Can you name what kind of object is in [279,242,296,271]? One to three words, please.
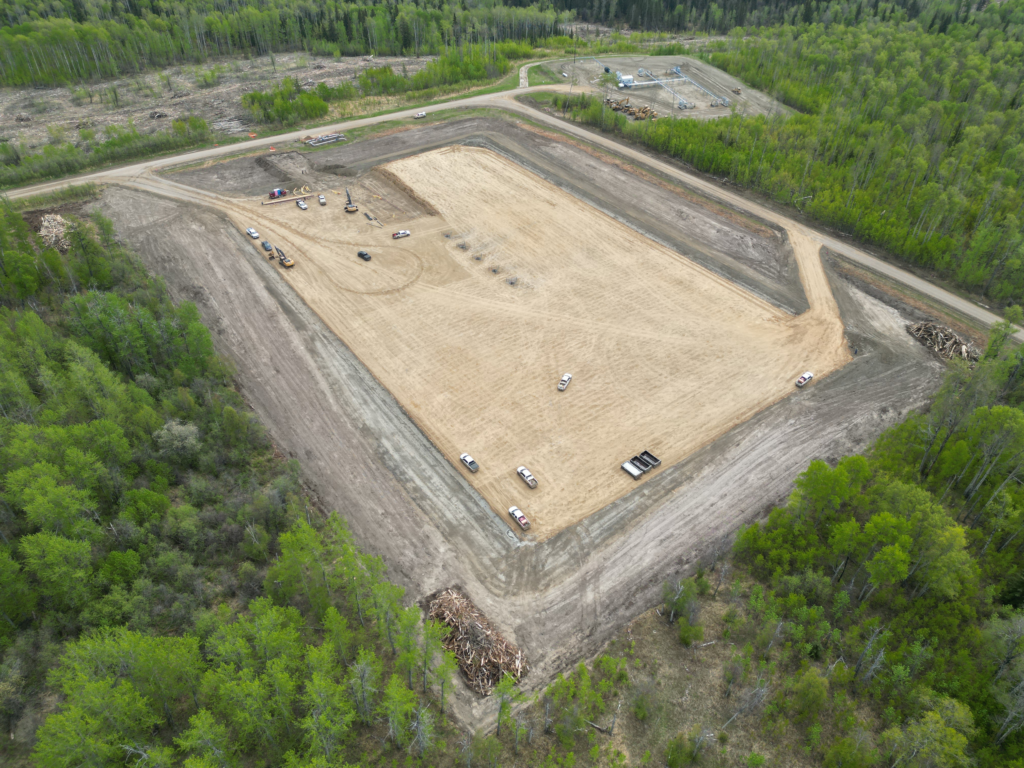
work vehicle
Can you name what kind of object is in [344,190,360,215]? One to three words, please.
work vehicle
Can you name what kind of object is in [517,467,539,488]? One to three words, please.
truck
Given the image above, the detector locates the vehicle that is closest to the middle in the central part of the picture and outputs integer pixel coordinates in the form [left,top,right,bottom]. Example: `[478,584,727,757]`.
[558,375,572,391]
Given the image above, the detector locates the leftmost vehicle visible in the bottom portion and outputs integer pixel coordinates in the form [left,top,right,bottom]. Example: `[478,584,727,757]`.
[460,454,480,474]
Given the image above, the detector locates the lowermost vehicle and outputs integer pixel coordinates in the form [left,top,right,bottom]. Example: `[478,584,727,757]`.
[509,507,532,531]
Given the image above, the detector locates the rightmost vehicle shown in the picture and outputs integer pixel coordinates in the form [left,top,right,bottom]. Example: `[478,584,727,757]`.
[795,374,813,388]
